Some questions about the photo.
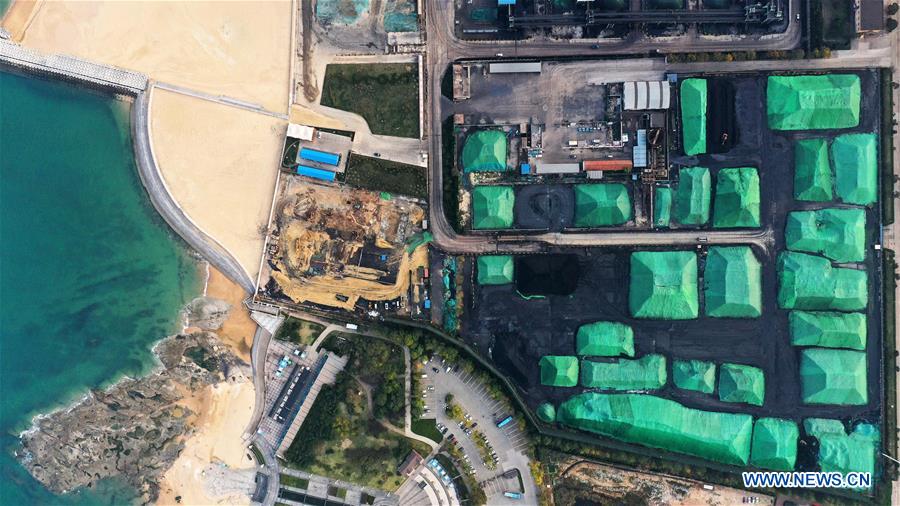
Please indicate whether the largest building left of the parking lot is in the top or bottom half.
bottom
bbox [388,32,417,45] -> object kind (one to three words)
building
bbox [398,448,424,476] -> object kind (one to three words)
house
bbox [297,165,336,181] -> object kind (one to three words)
shed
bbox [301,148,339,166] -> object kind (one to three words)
shed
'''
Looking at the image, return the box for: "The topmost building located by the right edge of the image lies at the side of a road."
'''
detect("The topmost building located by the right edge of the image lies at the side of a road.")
[853,0,883,34]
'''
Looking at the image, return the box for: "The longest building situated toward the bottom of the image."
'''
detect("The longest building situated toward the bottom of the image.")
[276,353,350,454]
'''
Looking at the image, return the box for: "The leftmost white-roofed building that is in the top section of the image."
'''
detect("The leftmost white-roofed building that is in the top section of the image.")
[287,124,315,141]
